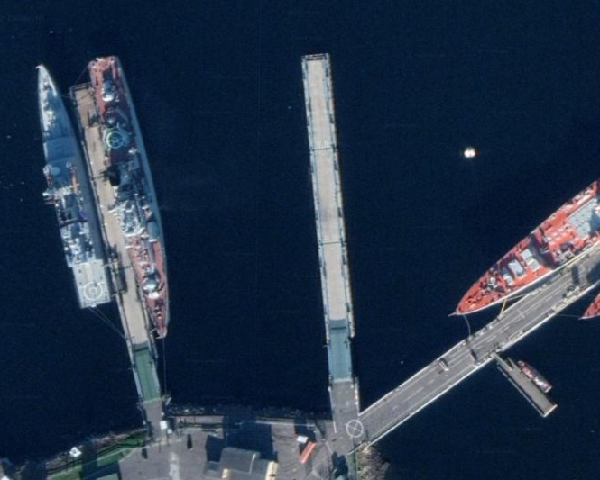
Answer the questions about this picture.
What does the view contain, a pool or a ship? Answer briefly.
ship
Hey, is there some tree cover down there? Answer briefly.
No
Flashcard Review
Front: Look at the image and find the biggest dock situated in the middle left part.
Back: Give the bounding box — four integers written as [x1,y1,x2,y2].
[72,82,168,443]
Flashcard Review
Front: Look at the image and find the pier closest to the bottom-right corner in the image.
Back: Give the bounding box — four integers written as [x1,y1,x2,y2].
[494,355,559,419]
